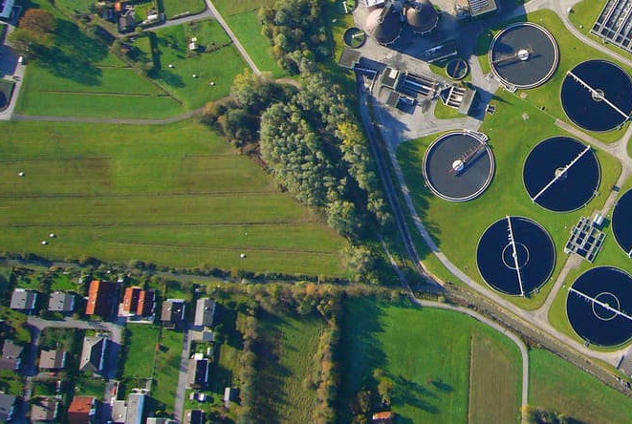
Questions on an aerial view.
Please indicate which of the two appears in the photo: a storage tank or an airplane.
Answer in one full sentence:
There is a storage tank in the scene.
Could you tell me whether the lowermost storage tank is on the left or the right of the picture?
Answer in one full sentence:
You can find the lowermost storage tank on the right side of the picture.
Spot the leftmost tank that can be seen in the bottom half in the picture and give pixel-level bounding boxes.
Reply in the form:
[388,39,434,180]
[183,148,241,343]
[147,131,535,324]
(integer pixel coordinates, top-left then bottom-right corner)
[476,215,556,299]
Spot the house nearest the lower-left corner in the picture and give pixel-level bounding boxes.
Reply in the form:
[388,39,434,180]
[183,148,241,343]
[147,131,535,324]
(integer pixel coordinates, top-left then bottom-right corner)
[0,393,19,423]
